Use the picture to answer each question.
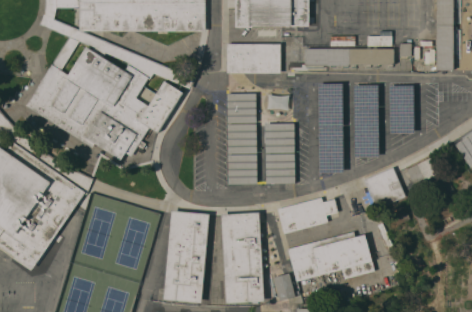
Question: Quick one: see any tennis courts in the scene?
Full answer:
Yes, this view includes a tennis court.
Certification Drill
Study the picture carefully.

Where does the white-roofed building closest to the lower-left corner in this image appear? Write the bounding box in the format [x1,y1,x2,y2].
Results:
[0,142,84,270]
